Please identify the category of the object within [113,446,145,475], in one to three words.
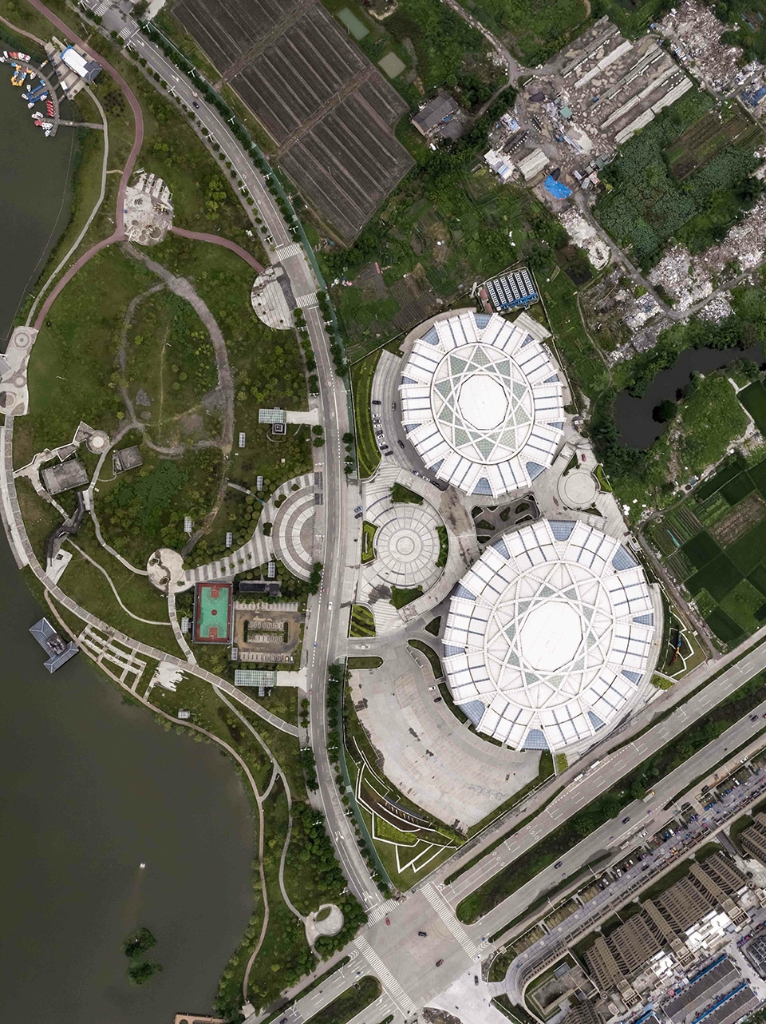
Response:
house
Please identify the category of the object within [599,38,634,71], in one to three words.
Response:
shed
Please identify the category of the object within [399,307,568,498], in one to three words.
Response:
building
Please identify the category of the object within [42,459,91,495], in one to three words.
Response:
building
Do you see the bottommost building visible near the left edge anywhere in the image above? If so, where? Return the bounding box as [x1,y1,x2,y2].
[24,616,78,675]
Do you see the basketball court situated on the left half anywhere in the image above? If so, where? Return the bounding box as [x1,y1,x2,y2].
[188,582,233,645]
